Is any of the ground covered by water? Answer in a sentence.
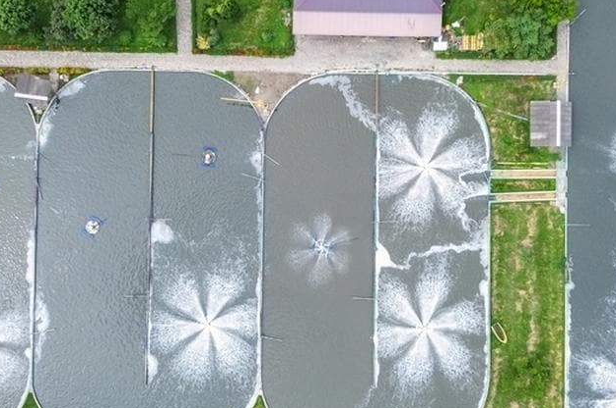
Yes, water can be seen from above here.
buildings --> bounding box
[293,0,446,41]
[14,71,60,113]
[526,98,571,148]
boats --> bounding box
[493,324,505,343]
